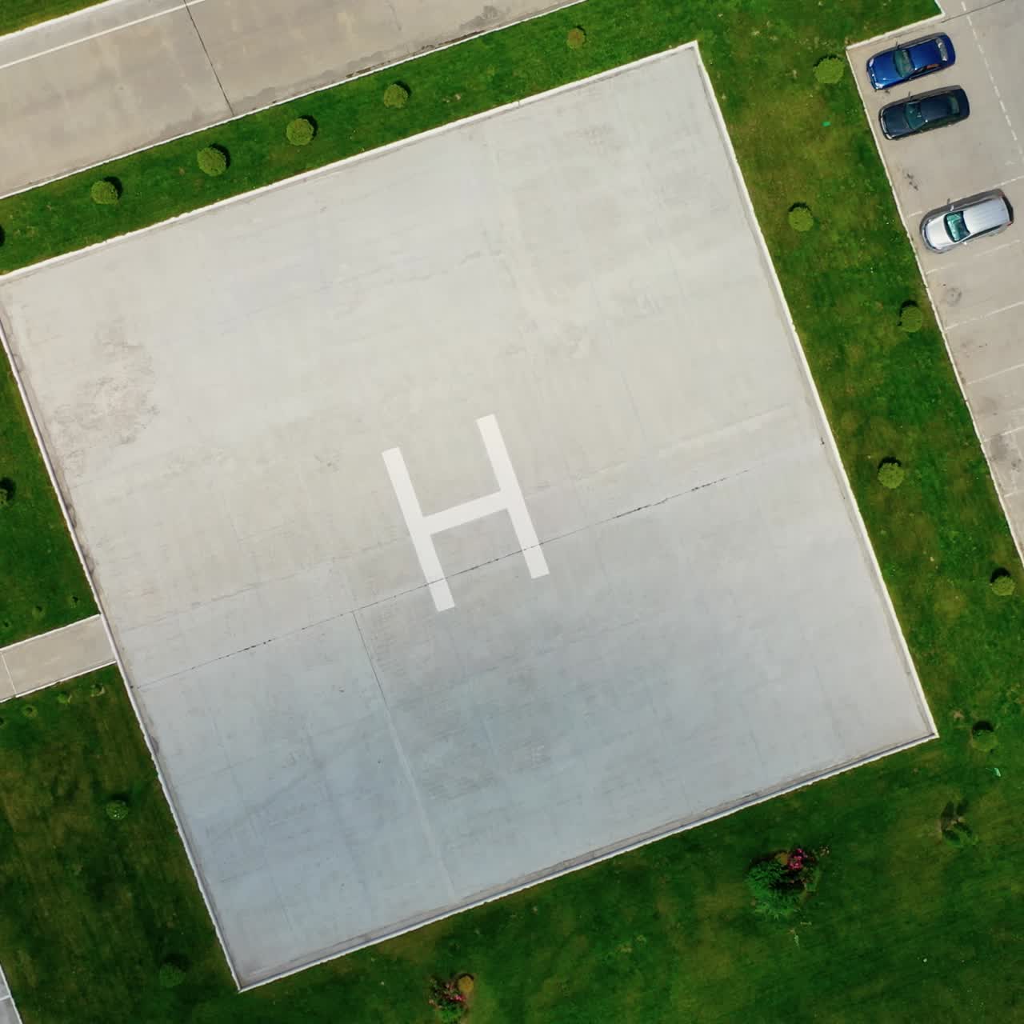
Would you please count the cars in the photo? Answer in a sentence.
I count 3 cars.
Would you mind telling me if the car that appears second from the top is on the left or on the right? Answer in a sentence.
The car that appears second from the top is on the right side of the image.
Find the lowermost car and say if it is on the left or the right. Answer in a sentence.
It is on the right.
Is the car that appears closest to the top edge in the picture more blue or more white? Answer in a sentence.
From above, the car that appears closest to the top edge appears blue.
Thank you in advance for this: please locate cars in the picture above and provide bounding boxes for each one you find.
[866,36,956,91]
[919,195,1016,252]
[877,87,971,142]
